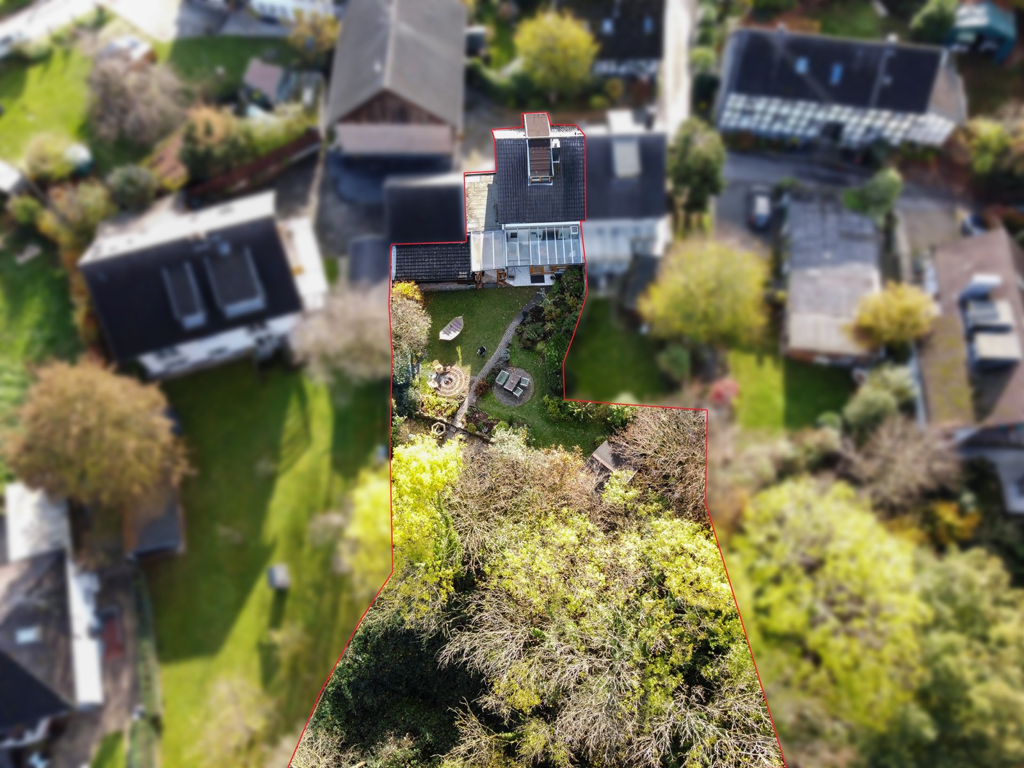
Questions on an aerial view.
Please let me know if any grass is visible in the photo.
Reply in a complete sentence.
Yes, grass shows up in the scene.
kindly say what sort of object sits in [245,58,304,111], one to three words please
shed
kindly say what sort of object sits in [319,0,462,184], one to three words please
barn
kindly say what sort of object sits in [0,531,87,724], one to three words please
house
